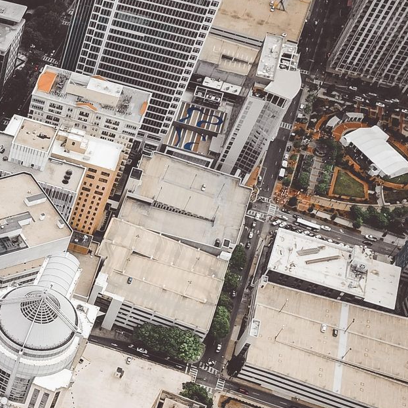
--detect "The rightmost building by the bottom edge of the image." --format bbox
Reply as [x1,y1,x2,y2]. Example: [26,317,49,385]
[235,267,408,408]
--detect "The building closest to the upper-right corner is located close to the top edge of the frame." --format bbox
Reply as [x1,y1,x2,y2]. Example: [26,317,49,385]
[329,0,408,92]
